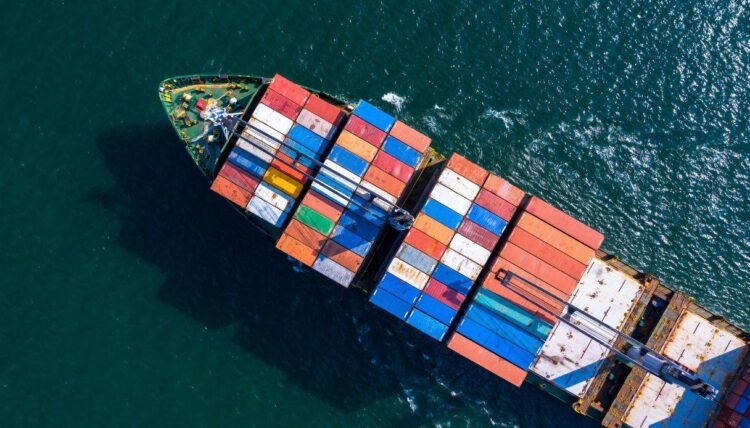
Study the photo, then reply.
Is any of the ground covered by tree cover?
No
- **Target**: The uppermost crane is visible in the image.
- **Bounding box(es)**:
[207,110,415,234]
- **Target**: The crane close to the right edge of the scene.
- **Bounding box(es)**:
[486,260,718,405]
